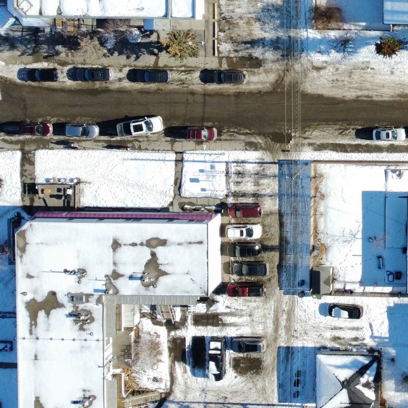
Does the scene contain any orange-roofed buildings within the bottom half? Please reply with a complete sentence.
No, there's no orange-roofed building to be seen within the bottom half.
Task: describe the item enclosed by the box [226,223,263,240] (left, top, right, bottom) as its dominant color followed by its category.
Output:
white car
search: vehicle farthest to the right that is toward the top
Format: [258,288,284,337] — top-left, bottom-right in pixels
[373,127,406,141]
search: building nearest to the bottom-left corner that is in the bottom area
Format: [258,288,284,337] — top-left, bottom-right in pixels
[16,211,222,408]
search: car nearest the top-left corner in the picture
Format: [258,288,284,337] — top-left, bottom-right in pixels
[27,66,65,83]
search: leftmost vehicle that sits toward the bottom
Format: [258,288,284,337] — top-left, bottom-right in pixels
[206,335,226,382]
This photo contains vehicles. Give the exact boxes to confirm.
[66,122,101,139]
[27,66,65,83]
[75,66,114,83]
[186,125,219,141]
[373,127,406,141]
[115,115,165,138]
[232,336,267,353]
[226,223,263,240]
[331,302,364,320]
[206,335,226,382]
[227,280,267,297]
[229,202,263,218]
[228,242,263,259]
[213,68,251,87]
[136,67,173,84]
[18,121,56,137]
